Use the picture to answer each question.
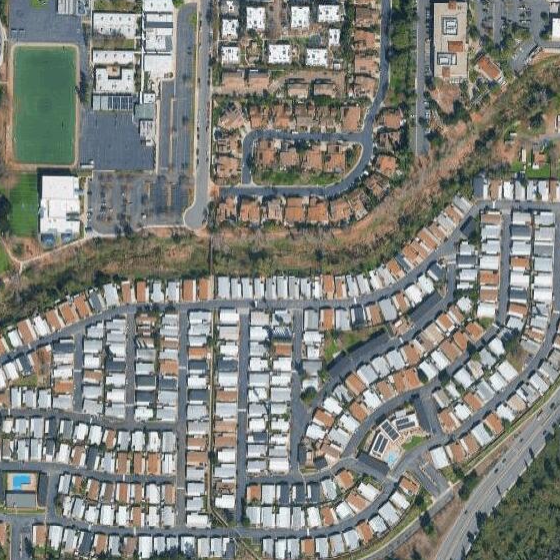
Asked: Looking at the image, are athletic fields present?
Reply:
Yes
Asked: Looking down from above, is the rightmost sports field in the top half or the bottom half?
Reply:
top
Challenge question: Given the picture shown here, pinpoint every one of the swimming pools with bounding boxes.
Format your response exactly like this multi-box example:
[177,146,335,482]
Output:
[13,474,31,490]
[387,450,398,463]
